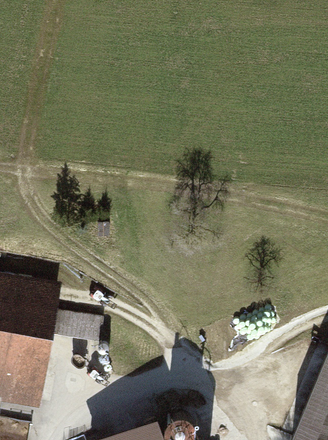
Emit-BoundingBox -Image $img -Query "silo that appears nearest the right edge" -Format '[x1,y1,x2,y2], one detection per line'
[164,415,196,440]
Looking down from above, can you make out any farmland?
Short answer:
Yes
